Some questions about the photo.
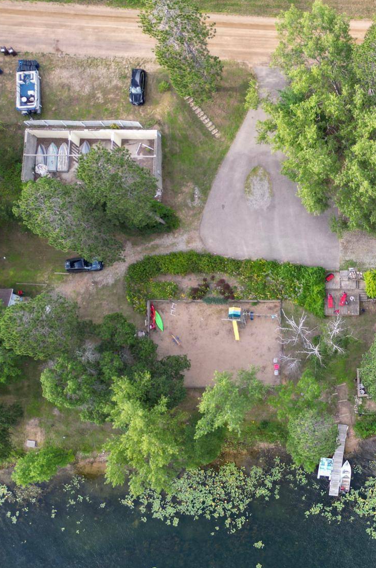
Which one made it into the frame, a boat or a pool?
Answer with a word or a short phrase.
boat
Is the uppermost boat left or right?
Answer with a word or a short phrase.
left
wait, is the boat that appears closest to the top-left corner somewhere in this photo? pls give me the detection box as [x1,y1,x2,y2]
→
[14,65,40,113]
